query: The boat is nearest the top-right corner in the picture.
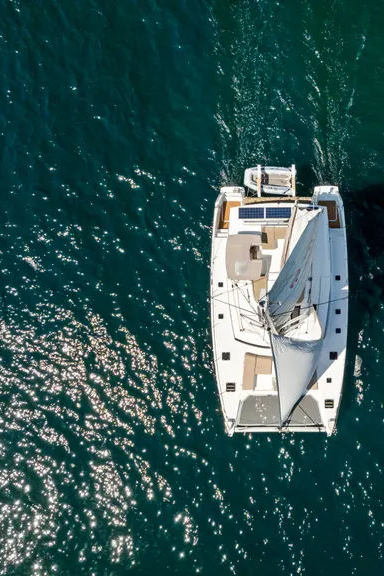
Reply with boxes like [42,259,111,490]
[244,166,292,196]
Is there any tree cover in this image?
No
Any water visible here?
Yes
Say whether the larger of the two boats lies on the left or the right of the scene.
right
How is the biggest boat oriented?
from top to bottom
